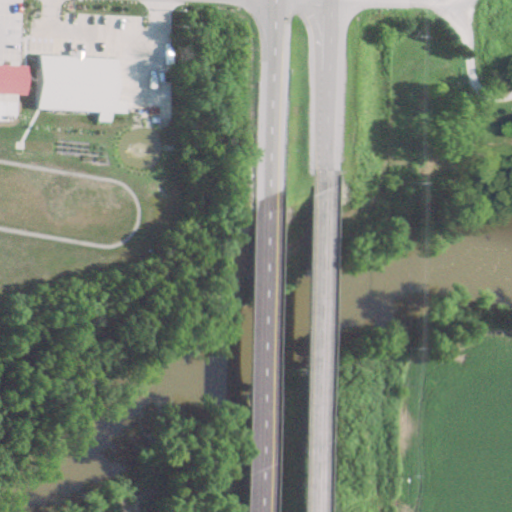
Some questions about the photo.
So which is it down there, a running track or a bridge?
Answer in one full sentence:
There is a bridge in the scene.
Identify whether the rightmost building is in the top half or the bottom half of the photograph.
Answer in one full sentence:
The rightmost building is in the top half of the image.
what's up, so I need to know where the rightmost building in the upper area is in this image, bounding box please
[38,56,127,122]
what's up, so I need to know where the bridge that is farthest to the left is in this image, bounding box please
[250,192,288,512]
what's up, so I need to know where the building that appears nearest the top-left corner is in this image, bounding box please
[0,66,31,95]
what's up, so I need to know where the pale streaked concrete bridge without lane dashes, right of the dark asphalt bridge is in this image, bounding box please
[308,174,341,512]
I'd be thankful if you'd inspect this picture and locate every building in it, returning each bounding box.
[0,66,31,95]
[38,56,127,122]
[0,96,20,122]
